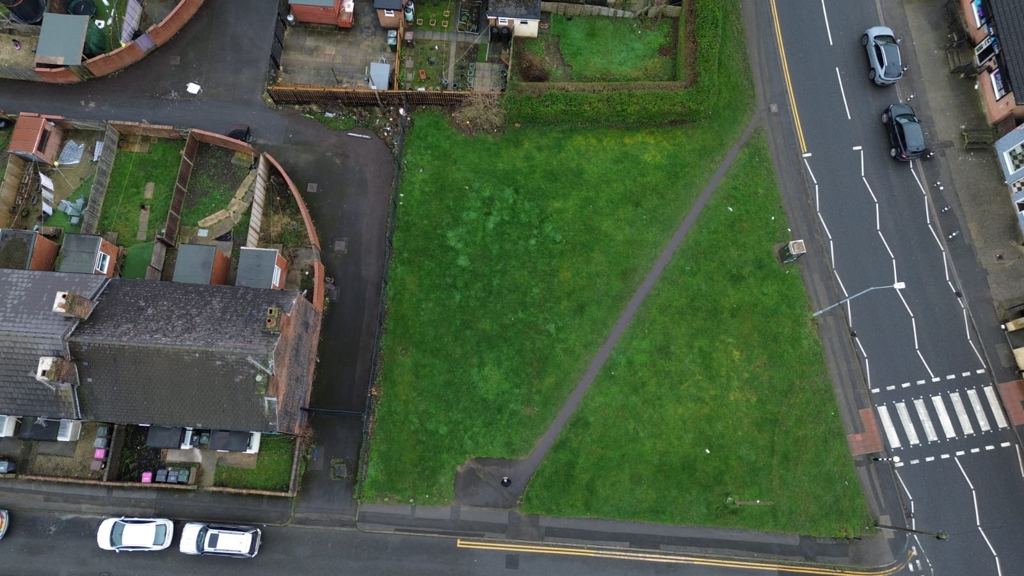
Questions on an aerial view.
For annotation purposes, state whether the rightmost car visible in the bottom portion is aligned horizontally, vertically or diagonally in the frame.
horizontally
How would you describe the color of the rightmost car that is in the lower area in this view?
white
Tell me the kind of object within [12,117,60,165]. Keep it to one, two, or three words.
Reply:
shed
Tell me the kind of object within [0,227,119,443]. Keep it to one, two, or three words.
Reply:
house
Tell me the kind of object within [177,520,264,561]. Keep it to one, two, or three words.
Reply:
car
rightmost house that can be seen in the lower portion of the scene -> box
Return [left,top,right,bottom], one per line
[69,244,321,451]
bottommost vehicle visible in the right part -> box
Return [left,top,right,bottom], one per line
[879,104,923,162]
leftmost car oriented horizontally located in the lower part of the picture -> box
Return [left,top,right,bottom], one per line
[96,516,176,554]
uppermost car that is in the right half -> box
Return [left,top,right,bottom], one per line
[861,28,903,86]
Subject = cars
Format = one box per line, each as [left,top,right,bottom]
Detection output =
[861,28,903,86]
[879,104,923,162]
[0,509,14,543]
[96,516,176,554]
[177,520,264,561]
